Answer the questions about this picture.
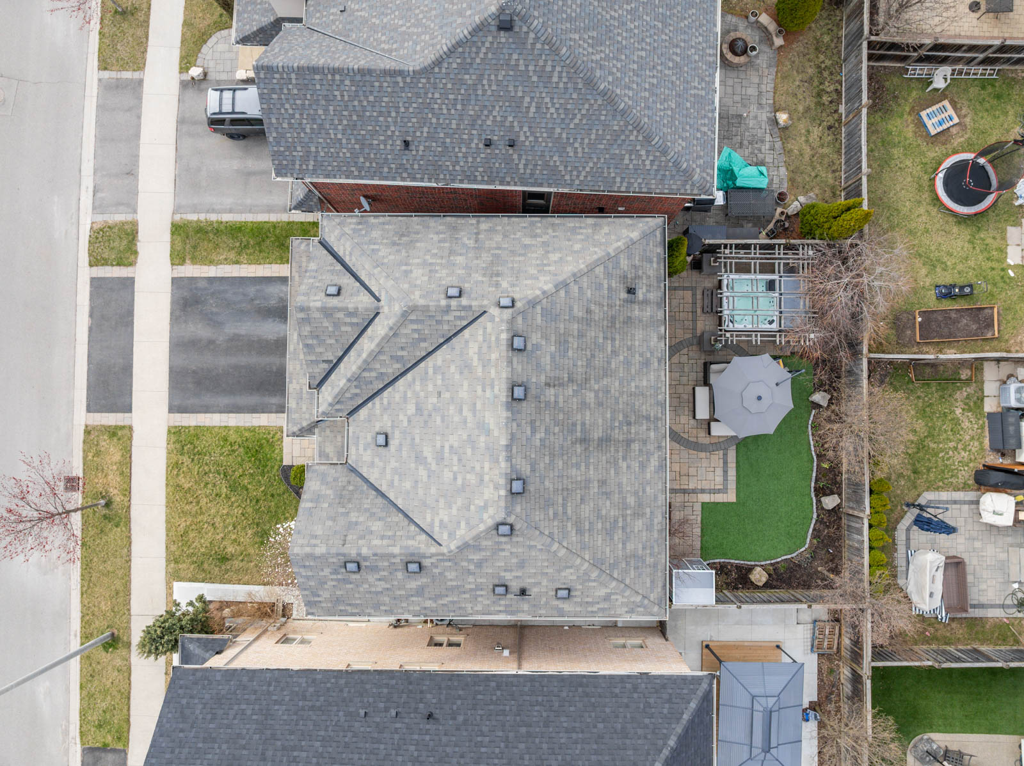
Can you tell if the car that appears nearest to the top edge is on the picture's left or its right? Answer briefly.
left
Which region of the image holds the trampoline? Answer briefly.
top right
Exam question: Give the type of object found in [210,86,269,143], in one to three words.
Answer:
car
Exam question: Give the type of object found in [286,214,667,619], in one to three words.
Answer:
house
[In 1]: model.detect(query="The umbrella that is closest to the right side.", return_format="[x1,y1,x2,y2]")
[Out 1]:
[901,503,958,535]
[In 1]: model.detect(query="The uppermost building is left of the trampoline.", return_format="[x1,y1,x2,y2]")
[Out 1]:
[232,0,720,224]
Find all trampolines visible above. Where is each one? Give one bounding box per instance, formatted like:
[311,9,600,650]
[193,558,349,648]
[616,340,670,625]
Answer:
[928,141,1024,217]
